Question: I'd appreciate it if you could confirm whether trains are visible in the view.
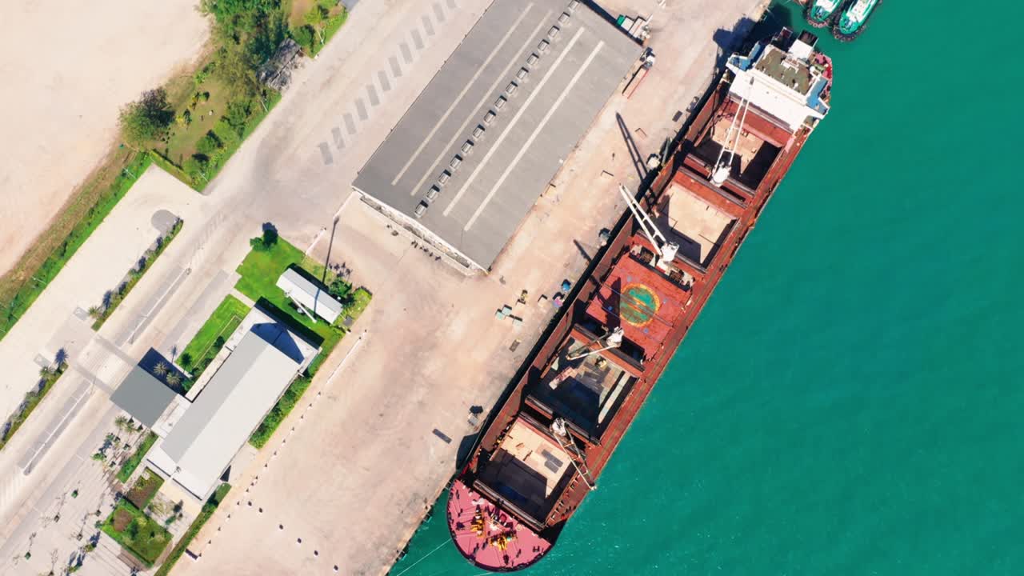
No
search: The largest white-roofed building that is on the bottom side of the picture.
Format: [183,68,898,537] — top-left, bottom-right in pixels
[110,309,320,522]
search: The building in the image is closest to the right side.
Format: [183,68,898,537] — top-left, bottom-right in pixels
[352,0,643,278]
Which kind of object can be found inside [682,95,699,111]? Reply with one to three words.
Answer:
vehicle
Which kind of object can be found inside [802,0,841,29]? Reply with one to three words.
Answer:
boat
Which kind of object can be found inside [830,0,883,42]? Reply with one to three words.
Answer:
boat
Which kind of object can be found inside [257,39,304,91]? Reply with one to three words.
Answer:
shed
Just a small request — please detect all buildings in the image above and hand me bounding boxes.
[277,269,345,323]
[257,39,304,91]
[110,309,320,522]
[352,0,643,278]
